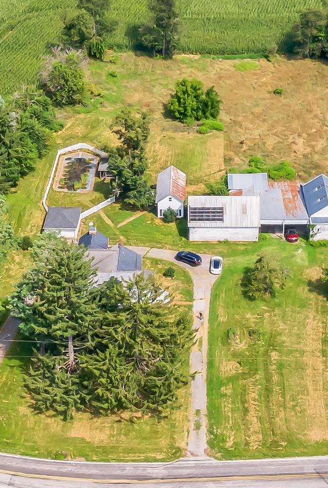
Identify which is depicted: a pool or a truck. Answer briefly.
pool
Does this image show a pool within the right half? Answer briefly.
No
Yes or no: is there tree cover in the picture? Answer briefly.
Yes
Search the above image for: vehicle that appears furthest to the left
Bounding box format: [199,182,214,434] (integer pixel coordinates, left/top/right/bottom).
[174,251,204,268]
